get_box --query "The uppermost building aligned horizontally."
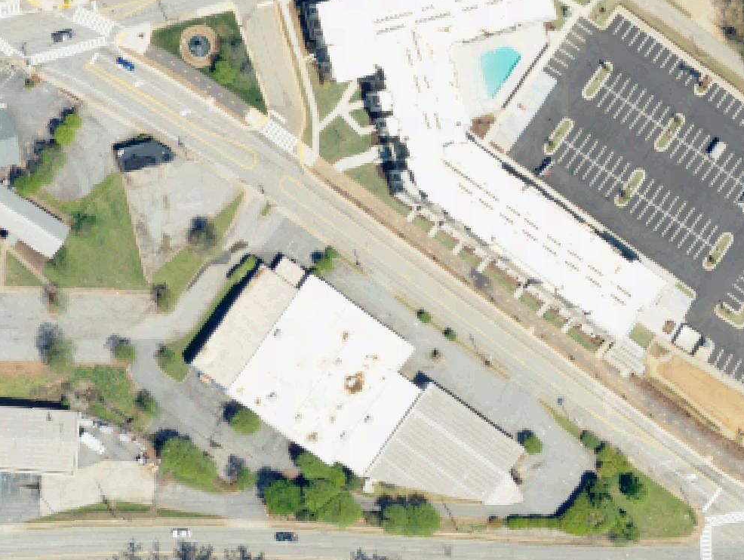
[118,144,175,173]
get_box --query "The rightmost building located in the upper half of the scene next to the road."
[298,0,671,343]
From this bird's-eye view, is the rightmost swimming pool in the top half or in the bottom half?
top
